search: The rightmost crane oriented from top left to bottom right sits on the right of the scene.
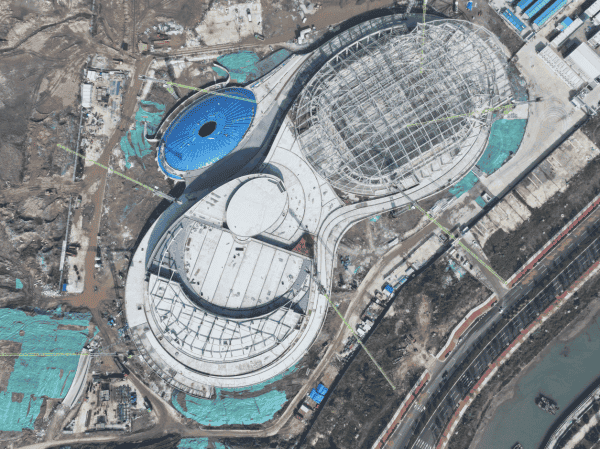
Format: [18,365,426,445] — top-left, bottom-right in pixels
[391,183,507,285]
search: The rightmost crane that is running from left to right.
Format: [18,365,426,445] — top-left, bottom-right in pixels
[407,96,539,128]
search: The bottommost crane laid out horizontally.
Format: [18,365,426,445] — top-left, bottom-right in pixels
[0,340,140,360]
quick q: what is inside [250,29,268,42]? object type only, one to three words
vehicle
